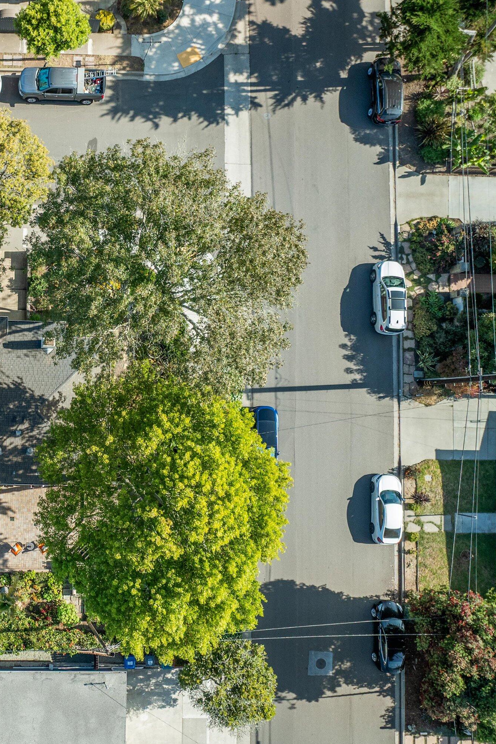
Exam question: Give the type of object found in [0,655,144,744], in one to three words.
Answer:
building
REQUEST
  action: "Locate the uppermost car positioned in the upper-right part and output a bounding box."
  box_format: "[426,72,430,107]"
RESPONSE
[368,55,408,124]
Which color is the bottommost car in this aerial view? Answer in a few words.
black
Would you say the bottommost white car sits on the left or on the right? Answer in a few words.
right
